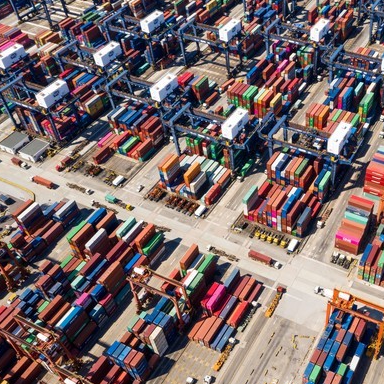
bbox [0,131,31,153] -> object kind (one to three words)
building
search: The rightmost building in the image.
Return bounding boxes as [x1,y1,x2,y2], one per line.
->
[18,138,52,161]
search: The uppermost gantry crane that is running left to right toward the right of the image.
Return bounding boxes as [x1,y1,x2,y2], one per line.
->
[225,0,291,28]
